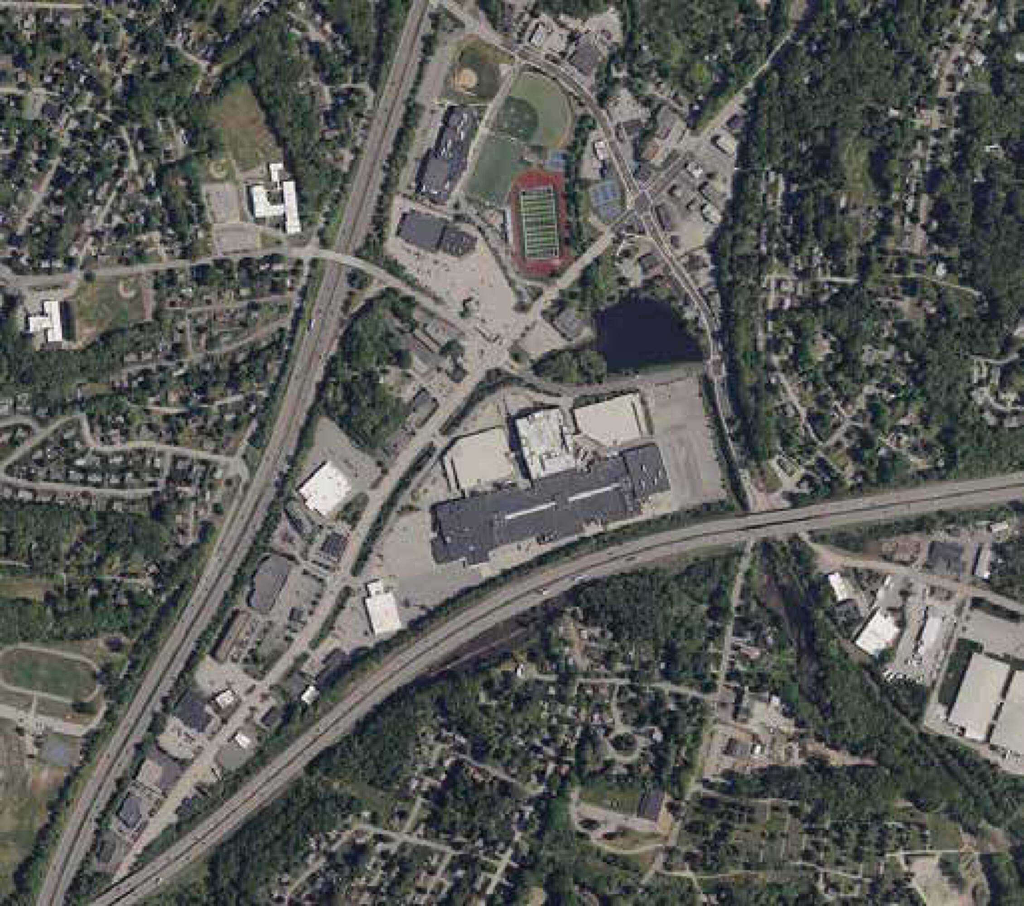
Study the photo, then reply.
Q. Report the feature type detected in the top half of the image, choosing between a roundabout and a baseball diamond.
baseball diamond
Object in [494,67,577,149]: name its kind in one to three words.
baseball field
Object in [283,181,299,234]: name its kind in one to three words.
building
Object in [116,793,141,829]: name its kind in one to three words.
building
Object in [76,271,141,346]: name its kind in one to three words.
sports field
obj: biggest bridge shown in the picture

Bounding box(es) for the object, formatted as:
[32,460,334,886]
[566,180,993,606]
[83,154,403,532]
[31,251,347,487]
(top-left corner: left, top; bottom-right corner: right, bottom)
[743,508,800,538]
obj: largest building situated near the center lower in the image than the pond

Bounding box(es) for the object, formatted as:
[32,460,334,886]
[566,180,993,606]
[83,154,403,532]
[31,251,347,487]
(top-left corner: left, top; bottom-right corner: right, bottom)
[431,452,640,564]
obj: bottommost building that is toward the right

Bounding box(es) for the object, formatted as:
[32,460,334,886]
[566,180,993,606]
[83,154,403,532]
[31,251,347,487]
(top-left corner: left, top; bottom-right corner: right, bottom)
[638,791,665,817]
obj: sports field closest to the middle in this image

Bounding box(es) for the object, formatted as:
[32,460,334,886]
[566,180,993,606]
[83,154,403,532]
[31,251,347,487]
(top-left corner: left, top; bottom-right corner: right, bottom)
[517,184,562,259]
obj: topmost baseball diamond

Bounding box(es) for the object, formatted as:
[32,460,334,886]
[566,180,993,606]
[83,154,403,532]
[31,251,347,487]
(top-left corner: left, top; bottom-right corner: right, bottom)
[442,36,514,105]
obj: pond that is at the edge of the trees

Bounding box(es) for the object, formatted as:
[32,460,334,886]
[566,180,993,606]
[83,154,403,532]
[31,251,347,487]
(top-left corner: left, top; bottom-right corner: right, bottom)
[592,291,704,371]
